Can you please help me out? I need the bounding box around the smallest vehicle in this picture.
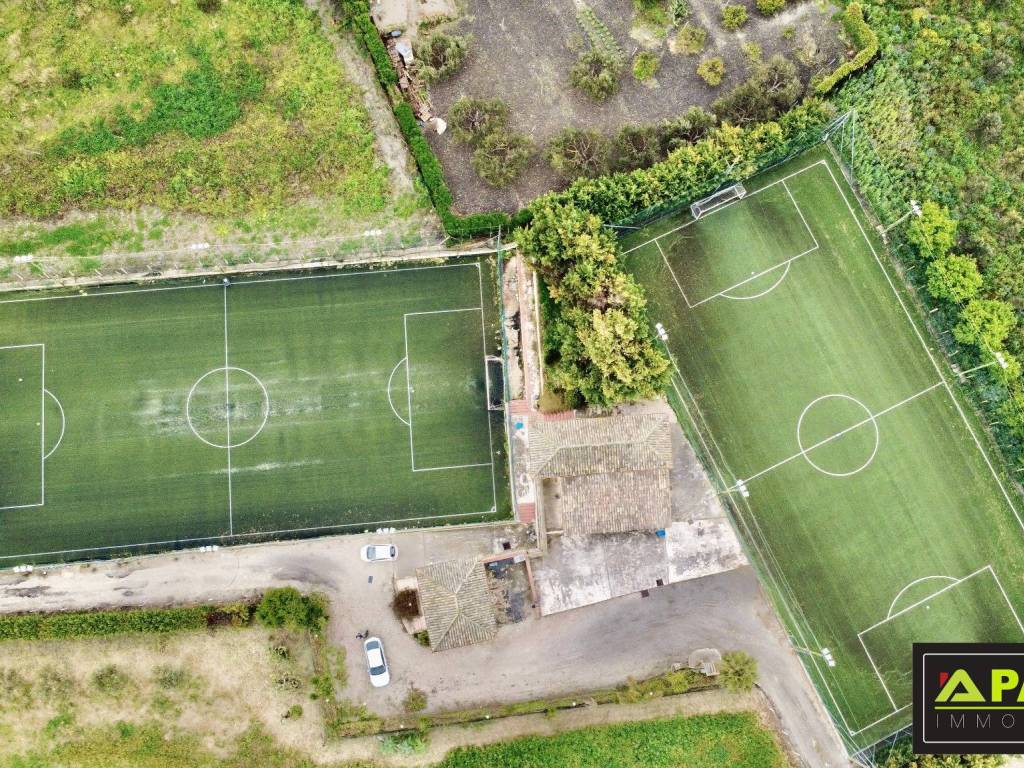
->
[361,542,398,563]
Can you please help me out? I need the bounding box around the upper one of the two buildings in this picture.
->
[528,413,673,536]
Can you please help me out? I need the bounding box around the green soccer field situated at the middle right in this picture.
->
[599,143,1024,753]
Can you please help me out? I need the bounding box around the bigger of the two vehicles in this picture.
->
[363,635,391,689]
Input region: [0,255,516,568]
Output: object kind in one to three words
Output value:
soccer field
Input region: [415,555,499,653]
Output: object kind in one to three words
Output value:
house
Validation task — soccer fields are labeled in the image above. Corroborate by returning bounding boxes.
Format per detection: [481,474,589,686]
[599,143,1024,753]
[0,255,516,568]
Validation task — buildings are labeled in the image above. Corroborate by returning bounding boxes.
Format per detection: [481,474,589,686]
[415,555,499,653]
[528,413,673,536]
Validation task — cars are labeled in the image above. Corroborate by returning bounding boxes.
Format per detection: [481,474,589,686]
[363,635,391,689]
[361,542,398,563]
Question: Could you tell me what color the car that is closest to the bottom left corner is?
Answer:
white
